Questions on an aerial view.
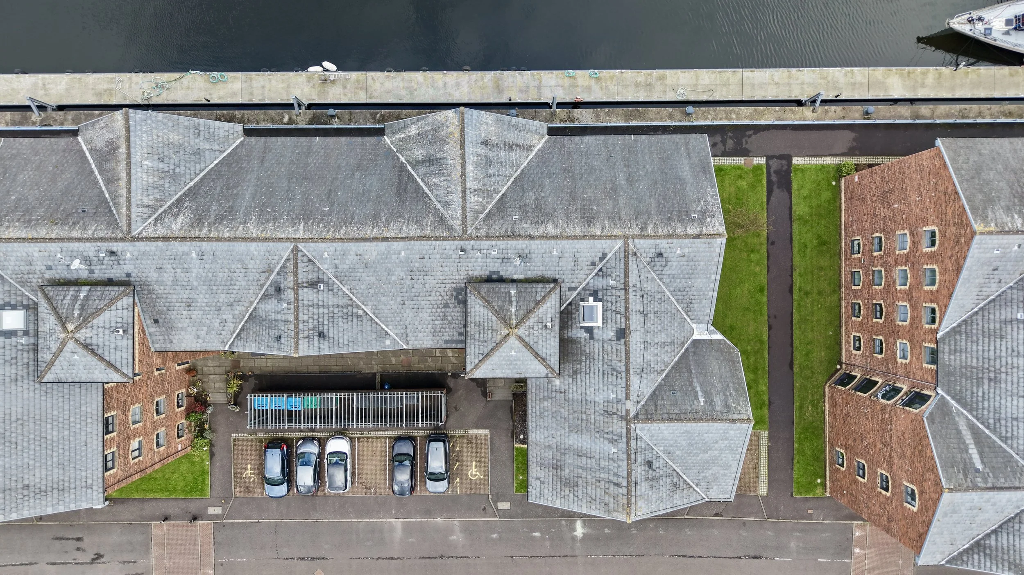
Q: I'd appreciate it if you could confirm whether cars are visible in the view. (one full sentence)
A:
Yes, there's a car here.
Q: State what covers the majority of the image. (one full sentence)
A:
The bulk of the photo consists of buildings.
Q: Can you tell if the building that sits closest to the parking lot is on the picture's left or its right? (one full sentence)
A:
The building that sits closest to the parking lot is on the left side of the image.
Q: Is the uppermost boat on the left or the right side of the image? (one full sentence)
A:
The uppermost boat appears in the right half of the scene.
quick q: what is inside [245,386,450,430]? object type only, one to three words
building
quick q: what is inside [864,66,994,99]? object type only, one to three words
pier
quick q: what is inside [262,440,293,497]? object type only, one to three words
car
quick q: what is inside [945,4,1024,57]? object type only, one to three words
boat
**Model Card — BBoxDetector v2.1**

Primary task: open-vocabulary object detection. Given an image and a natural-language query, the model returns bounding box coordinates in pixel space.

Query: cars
[390,433,418,494]
[295,435,323,493]
[325,432,353,490]
[262,440,293,497]
[423,431,450,489]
